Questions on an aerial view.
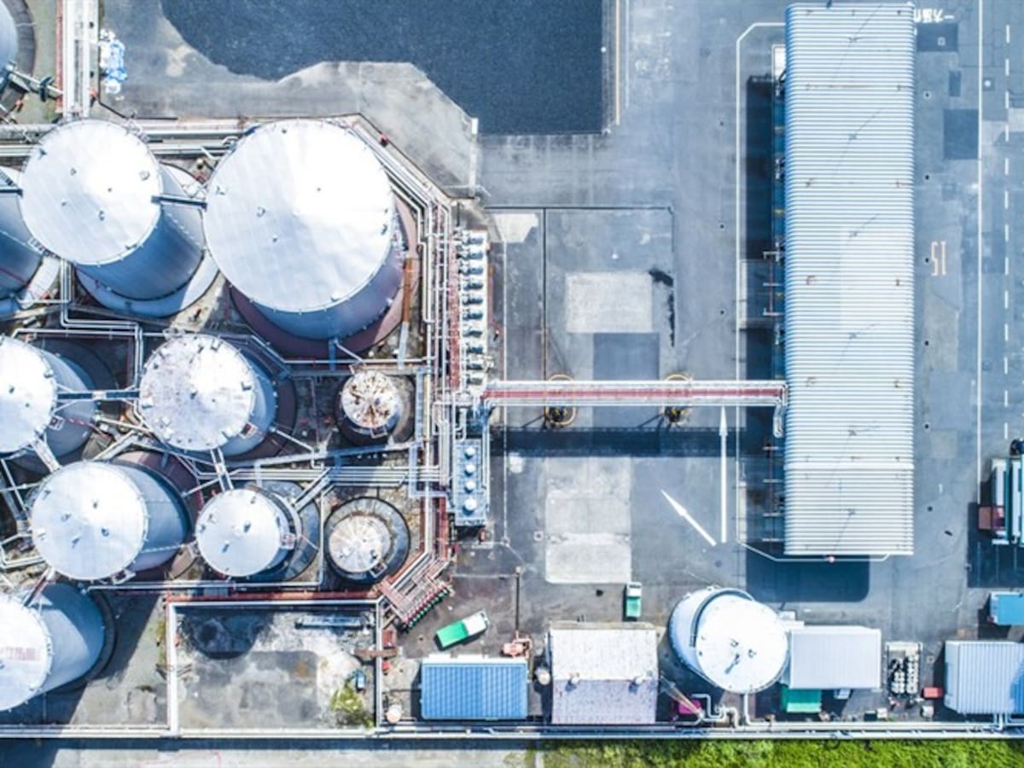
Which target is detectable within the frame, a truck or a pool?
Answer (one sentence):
This aerial view contains a truck.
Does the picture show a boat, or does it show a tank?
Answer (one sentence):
This aerial view contains a tank.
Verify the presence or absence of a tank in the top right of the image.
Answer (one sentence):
No, no tank can be made out in the top right of the image.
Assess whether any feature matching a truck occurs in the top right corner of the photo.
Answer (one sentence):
No, no truck appears in the top right corner of the photo.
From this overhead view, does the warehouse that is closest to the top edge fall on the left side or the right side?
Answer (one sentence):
The warehouse that is closest to the top edge is on the right side of the image.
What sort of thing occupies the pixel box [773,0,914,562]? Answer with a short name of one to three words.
warehouse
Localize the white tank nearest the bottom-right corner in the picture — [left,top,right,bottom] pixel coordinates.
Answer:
[666,586,791,694]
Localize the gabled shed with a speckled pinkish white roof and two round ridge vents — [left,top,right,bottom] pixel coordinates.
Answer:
[549,620,658,724]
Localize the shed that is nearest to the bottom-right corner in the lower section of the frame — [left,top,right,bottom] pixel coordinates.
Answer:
[934,640,1024,714]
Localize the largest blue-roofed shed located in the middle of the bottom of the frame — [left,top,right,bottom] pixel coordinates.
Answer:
[418,651,531,720]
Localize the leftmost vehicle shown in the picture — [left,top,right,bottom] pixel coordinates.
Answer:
[431,605,492,651]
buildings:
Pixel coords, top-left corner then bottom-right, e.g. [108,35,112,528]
[934,640,1024,714]
[779,611,882,691]
[549,620,658,724]
[773,0,914,562]
[418,651,531,720]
